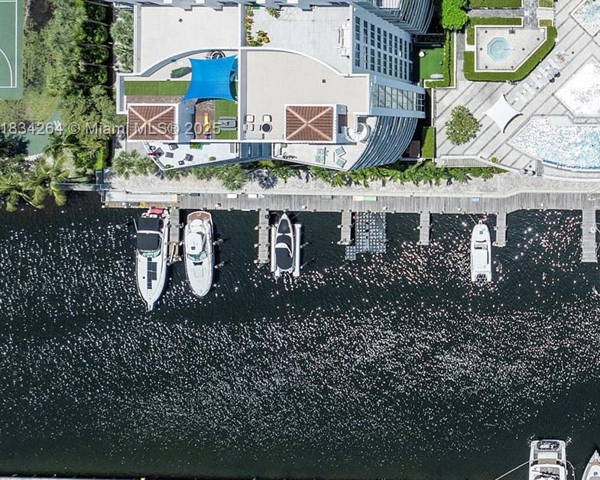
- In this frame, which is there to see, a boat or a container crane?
boat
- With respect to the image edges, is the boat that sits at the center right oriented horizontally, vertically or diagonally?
vertically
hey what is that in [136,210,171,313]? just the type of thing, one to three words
boat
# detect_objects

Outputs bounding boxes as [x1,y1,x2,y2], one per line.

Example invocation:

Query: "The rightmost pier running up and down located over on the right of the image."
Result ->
[581,213,599,263]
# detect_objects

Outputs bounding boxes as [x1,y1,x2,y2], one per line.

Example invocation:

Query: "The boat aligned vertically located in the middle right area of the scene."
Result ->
[471,220,494,284]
